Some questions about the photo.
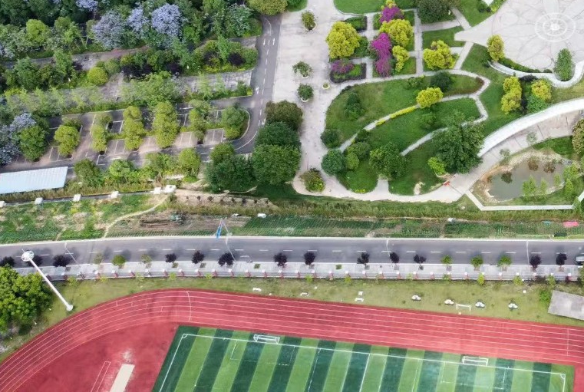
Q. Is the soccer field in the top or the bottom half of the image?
bottom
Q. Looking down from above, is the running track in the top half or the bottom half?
bottom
